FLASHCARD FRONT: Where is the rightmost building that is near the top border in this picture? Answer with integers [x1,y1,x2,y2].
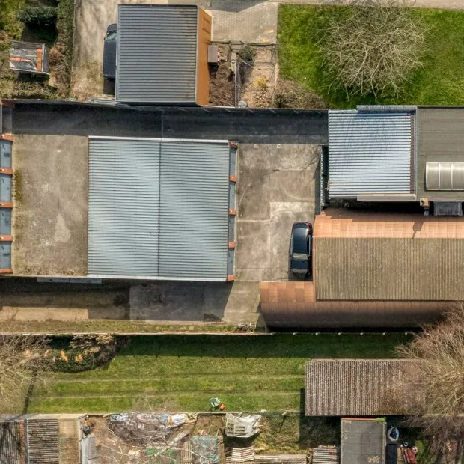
[114,4,212,104]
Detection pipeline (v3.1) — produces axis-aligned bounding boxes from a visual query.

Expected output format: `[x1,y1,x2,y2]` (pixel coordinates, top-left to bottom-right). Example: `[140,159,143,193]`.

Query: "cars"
[286,223,310,278]
[98,24,117,79]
